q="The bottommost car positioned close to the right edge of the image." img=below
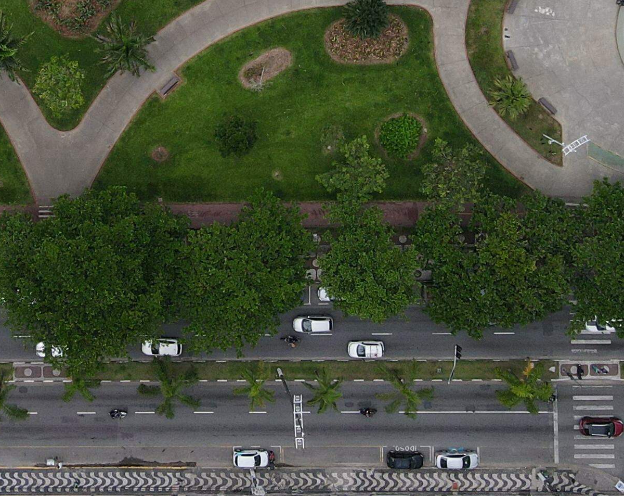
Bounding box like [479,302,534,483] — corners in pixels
[582,416,624,439]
